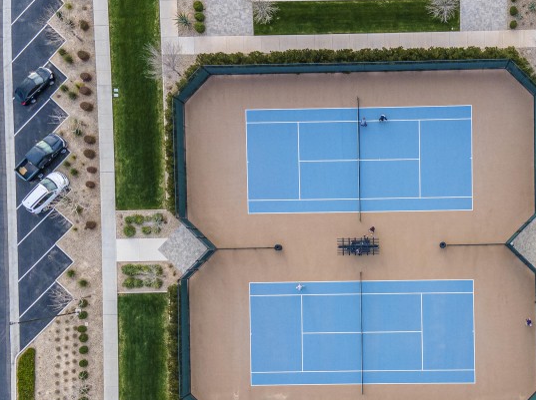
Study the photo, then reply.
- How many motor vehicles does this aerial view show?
three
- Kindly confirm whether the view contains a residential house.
No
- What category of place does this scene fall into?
sports ground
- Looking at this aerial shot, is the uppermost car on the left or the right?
left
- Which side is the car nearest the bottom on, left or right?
left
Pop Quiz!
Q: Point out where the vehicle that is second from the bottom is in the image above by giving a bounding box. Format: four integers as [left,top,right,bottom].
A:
[14,130,69,183]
